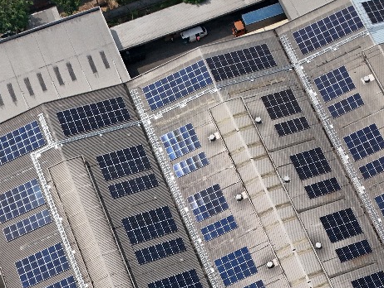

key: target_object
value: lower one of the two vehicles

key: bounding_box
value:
[181,31,208,50]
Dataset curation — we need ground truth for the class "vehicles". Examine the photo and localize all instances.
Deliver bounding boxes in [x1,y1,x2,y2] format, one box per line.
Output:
[181,31,208,50]
[234,5,277,34]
